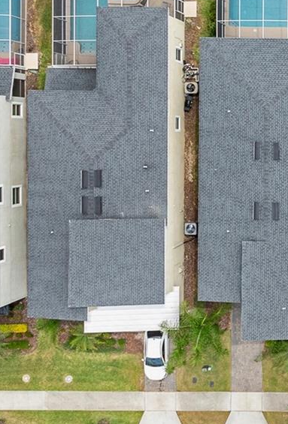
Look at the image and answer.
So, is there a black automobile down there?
No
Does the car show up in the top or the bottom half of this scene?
bottom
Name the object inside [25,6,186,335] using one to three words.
house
